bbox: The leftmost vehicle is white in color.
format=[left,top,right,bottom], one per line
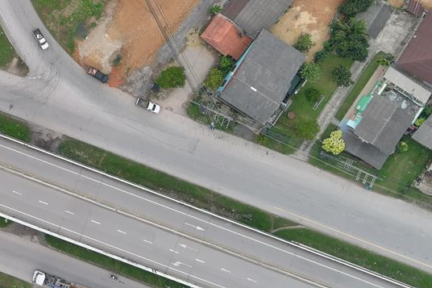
[30,26,49,52]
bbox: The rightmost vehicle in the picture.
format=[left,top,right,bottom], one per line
[134,96,160,114]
